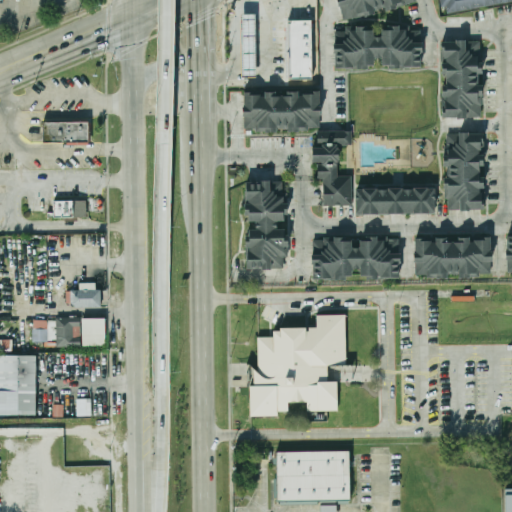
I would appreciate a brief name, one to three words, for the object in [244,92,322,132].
building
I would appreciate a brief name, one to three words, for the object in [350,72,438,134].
sports field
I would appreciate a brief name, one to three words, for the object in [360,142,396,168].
swimming pool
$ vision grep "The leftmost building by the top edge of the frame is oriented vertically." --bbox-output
[242,14,256,78]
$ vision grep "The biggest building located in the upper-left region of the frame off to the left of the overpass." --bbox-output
[44,121,90,145]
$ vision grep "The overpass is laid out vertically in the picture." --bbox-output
[151,0,176,512]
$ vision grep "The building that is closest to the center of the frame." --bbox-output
[246,186,286,264]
